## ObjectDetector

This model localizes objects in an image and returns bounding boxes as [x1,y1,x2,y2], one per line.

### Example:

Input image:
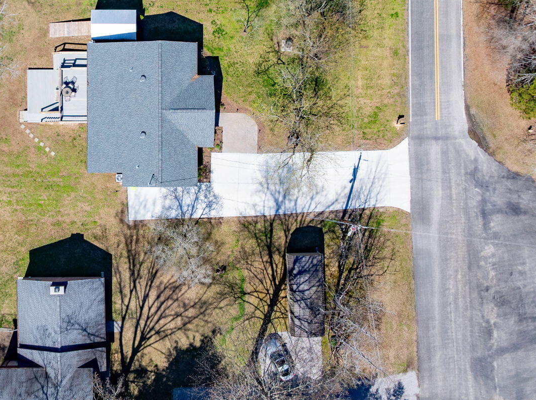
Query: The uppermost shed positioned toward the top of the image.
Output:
[91,10,136,41]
